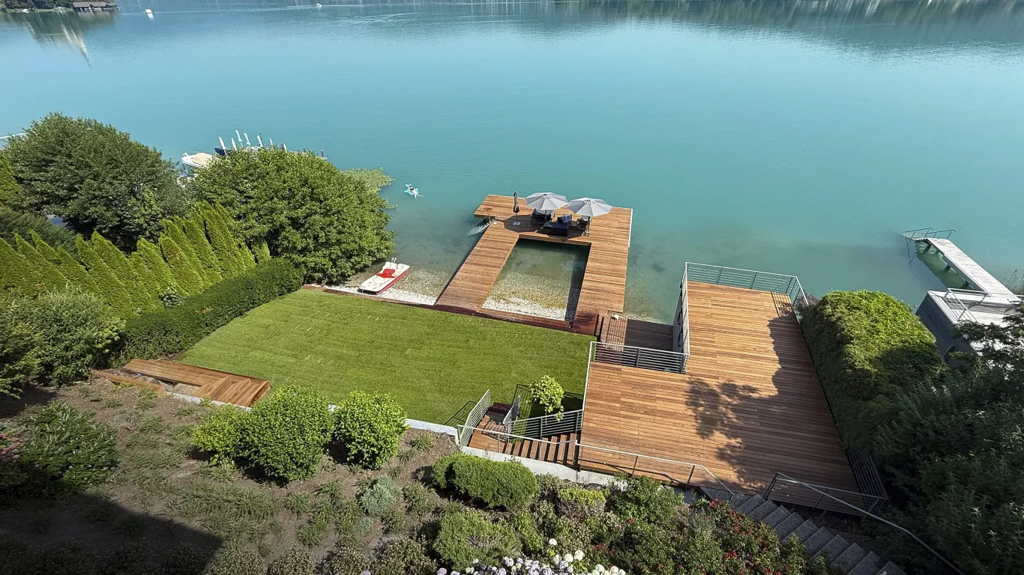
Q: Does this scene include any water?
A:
Yes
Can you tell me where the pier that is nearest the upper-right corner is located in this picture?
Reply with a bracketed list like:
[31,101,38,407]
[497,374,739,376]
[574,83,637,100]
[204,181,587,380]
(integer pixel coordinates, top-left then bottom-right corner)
[893,223,1024,303]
